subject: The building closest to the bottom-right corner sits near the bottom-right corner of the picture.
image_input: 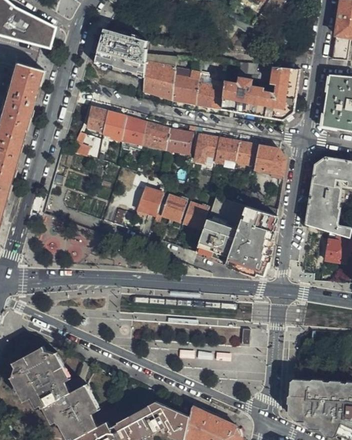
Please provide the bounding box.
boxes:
[285,382,352,440]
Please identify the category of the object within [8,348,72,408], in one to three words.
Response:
building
